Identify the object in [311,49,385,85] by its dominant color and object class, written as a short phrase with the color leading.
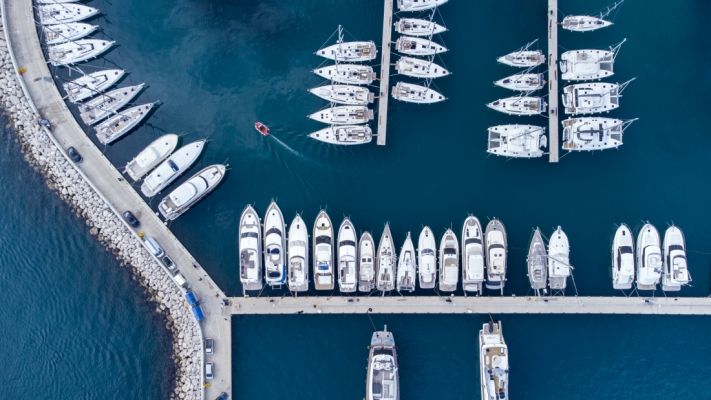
white boat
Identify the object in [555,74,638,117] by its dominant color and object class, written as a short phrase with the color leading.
white boat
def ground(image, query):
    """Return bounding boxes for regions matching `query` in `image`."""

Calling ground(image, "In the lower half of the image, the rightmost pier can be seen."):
[231,294,711,316]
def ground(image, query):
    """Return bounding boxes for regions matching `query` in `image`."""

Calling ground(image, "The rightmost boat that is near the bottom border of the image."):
[478,315,509,400]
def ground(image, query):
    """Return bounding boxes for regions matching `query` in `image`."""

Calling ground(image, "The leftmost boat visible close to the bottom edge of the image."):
[364,315,399,400]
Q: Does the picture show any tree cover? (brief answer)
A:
No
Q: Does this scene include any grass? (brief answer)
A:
No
